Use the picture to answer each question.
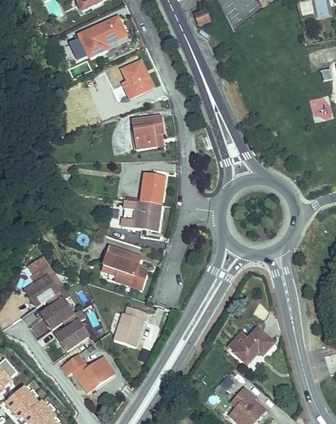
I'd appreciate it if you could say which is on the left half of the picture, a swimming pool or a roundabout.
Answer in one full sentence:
Visible on the left half of the picture is a swimming pool.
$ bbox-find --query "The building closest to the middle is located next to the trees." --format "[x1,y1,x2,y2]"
[112,172,167,233]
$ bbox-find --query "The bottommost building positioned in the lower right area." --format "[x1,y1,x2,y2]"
[228,386,268,424]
